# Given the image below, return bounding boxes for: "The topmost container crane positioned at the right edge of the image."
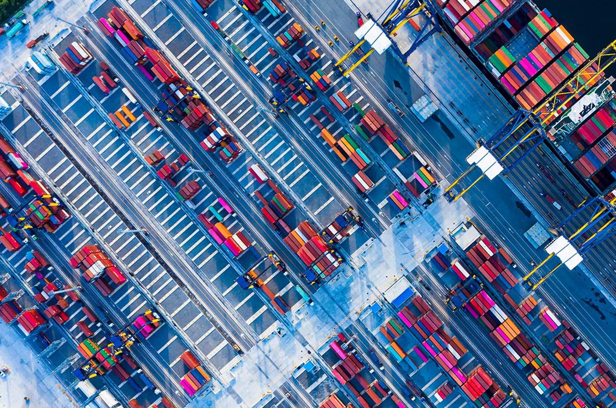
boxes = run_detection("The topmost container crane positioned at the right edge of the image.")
[442,37,616,205]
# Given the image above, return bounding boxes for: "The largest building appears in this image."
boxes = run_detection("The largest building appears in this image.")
[382,278,414,308]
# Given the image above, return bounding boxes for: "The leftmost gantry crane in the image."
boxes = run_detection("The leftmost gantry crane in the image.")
[5,192,63,229]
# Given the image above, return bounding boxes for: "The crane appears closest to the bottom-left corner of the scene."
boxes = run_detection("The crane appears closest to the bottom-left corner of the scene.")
[72,341,128,381]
